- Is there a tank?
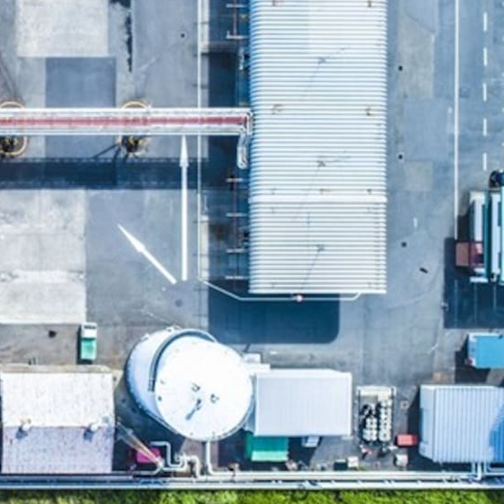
Yes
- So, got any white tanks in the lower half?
Yes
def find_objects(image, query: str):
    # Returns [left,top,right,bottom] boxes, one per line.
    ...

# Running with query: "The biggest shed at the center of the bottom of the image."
[243,353,353,438]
